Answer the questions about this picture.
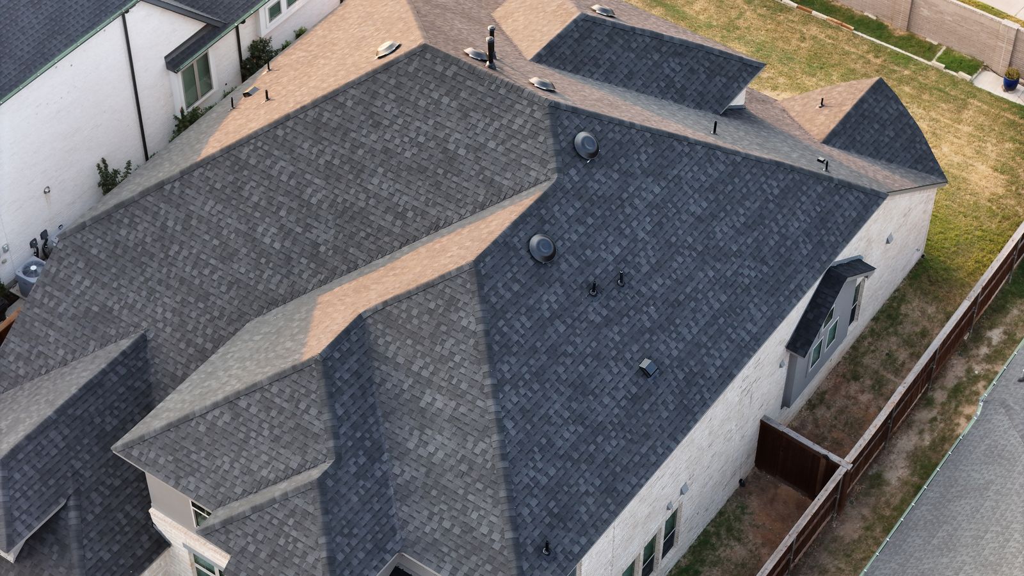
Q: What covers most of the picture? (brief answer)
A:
buildings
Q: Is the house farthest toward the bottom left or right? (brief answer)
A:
right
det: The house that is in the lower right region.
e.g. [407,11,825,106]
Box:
[857,337,1024,576]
